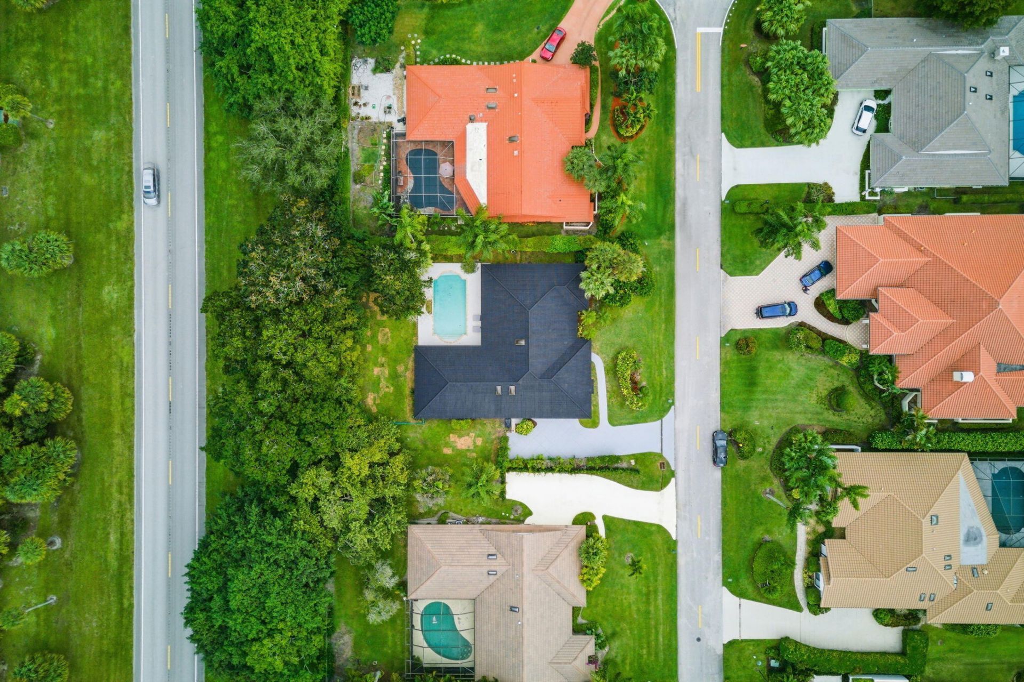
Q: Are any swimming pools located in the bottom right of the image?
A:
Yes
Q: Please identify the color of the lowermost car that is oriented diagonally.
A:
blue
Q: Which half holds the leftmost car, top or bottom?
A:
top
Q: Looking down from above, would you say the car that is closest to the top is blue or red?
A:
red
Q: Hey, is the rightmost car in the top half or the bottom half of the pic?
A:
top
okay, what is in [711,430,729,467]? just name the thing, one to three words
car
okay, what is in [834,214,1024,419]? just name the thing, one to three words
house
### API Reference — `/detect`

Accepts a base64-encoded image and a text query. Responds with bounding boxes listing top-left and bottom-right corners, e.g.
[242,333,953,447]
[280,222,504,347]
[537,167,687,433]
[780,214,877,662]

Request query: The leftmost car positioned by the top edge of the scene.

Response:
[541,25,567,61]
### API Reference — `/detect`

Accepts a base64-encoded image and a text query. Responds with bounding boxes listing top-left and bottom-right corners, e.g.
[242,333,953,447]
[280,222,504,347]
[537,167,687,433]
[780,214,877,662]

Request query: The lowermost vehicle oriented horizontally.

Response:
[757,300,796,319]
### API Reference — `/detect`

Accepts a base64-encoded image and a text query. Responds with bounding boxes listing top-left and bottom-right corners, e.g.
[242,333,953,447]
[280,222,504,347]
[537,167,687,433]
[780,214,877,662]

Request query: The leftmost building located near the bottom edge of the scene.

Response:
[407,524,595,682]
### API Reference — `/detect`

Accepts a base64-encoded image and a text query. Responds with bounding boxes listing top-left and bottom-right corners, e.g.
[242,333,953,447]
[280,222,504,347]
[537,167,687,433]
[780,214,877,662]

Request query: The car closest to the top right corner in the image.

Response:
[851,98,877,136]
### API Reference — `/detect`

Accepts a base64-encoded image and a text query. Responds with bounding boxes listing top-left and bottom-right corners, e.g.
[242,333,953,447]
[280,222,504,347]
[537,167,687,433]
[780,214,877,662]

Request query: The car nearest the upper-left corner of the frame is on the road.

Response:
[141,166,161,204]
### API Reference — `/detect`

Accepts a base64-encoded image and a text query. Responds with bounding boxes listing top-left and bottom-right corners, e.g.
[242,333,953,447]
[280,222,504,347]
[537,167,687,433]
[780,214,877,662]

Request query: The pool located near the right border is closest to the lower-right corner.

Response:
[969,456,1024,547]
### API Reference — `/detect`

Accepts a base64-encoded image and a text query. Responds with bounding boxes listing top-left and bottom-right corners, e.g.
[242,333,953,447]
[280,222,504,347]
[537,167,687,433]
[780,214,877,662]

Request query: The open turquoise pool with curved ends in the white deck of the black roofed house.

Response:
[418,263,481,345]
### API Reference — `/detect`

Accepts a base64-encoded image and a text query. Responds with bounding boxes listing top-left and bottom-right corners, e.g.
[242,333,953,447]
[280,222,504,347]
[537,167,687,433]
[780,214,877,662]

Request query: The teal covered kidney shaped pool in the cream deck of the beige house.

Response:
[413,599,475,673]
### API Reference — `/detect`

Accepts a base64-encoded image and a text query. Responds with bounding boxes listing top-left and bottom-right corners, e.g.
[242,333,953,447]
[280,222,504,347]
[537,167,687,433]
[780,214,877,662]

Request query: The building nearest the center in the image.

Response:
[414,263,594,419]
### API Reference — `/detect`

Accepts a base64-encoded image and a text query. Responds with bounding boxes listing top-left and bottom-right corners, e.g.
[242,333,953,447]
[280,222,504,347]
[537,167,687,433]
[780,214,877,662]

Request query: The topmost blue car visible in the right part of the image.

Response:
[798,260,834,288]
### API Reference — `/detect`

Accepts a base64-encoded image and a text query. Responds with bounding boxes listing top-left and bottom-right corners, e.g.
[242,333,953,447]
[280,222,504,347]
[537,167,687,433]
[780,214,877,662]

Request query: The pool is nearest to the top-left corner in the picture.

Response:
[395,132,471,216]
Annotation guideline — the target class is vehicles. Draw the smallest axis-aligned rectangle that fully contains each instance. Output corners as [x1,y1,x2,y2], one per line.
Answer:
[798,260,834,288]
[851,98,877,136]
[541,25,567,61]
[757,300,796,319]
[711,430,729,467]
[141,166,161,204]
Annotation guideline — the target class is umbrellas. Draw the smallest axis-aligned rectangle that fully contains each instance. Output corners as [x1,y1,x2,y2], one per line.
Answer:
[439,163,453,177]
